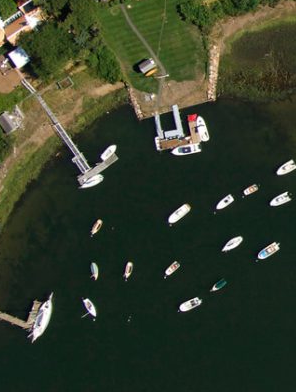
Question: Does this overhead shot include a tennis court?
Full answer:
No, the photo shows no tennis court.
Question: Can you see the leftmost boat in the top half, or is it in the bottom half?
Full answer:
You can find the leftmost boat in the bottom half.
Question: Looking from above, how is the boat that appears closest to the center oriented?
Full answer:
The boat that appears closest to the center has been laid out diagonally relative to the frame.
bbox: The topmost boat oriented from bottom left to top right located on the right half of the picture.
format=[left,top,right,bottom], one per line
[277,158,296,174]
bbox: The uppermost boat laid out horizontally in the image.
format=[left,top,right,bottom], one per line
[172,143,201,155]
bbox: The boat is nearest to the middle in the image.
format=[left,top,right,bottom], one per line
[169,202,192,224]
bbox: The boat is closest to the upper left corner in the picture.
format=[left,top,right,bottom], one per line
[99,146,116,161]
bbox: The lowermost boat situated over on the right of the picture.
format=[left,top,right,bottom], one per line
[179,296,203,311]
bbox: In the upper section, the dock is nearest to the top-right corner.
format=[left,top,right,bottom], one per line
[155,108,200,151]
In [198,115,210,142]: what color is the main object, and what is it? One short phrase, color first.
white boat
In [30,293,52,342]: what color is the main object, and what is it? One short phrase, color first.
white boat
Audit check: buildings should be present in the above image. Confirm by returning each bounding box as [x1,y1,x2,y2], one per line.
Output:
[0,1,37,43]
[139,58,158,78]
[0,111,21,134]
[8,47,33,69]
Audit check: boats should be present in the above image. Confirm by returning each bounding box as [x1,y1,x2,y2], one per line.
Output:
[244,183,260,195]
[198,115,210,142]
[92,219,103,234]
[270,189,292,206]
[30,293,52,342]
[223,235,243,251]
[258,240,281,259]
[277,158,296,174]
[91,262,98,280]
[99,146,116,161]
[172,143,201,155]
[212,278,228,291]
[79,175,104,188]
[125,261,133,279]
[83,298,96,316]
[165,260,182,275]
[179,296,203,311]
[217,193,235,210]
[169,202,192,224]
